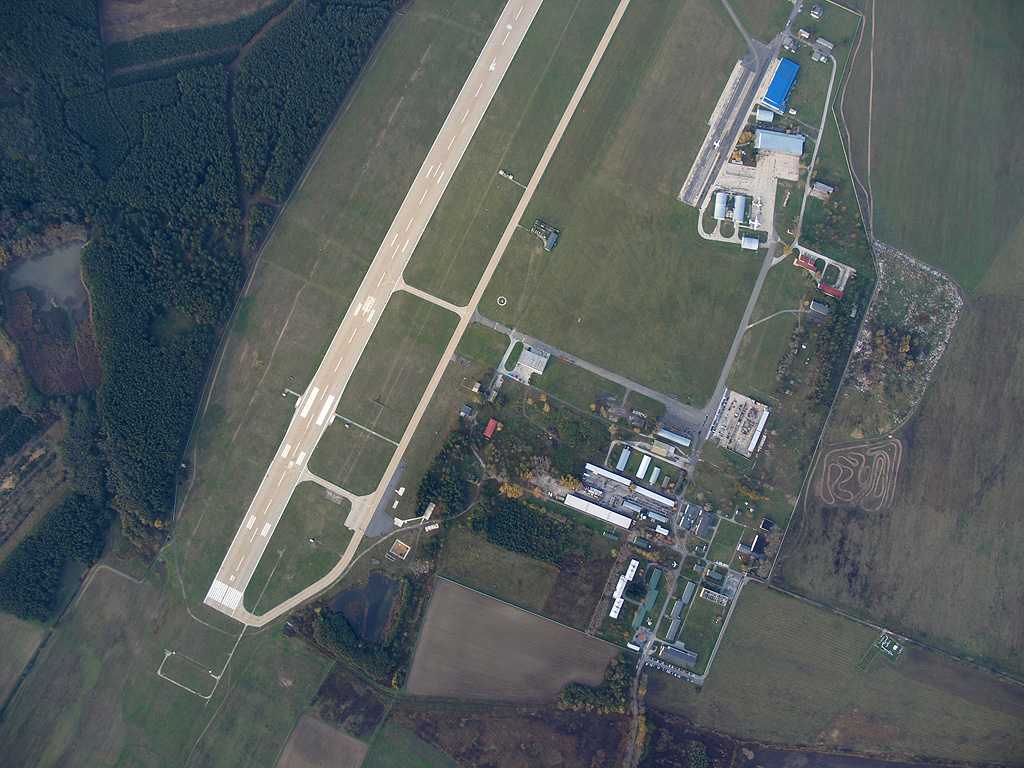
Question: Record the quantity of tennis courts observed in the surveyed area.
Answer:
0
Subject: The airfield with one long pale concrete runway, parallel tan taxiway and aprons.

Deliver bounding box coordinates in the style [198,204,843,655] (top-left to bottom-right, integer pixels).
[204,0,802,627]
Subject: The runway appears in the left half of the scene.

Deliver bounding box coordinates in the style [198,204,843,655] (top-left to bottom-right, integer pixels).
[204,0,543,617]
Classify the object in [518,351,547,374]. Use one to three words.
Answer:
building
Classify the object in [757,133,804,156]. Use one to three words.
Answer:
hangar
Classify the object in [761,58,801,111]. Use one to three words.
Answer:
hangar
